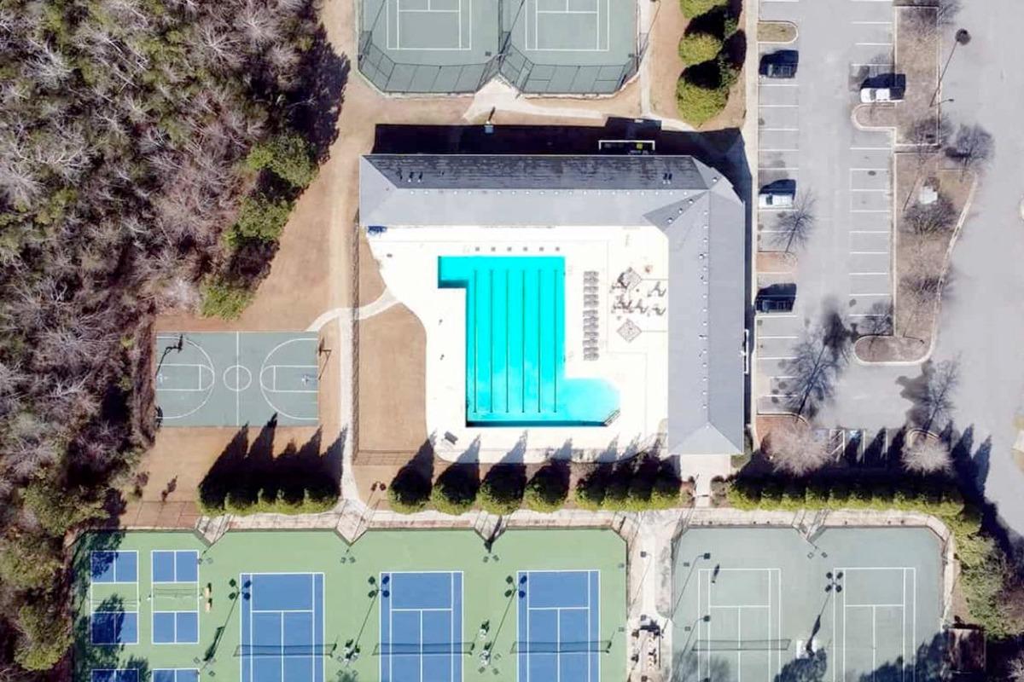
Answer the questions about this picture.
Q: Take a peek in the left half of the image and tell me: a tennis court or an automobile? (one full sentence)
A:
You can see a tennis court in the left half of the image.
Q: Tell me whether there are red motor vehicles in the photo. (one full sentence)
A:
No, I can't see a single red motor vehicle in this photo.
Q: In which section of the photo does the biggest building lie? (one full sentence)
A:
Look in the center portion of the view to spot the biggest building.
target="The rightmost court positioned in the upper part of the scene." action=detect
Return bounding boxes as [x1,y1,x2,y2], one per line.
[525,0,609,50]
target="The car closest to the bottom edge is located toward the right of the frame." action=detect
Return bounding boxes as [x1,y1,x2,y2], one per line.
[756,295,794,313]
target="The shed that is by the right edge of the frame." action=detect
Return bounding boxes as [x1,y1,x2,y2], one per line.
[948,630,984,670]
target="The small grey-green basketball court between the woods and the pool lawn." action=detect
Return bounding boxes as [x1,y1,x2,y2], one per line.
[156,332,319,427]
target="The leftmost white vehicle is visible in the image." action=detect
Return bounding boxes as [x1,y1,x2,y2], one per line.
[758,192,795,210]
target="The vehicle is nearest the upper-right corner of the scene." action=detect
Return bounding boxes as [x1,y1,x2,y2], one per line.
[861,86,906,104]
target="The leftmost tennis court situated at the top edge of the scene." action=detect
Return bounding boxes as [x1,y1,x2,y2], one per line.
[387,0,471,49]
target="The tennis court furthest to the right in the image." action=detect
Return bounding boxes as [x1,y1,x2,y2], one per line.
[834,568,915,682]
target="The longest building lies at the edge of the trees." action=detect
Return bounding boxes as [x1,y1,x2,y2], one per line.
[360,154,745,455]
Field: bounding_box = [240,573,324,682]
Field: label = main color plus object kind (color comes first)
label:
blue tennis court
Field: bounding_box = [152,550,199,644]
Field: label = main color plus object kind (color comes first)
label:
blue sports court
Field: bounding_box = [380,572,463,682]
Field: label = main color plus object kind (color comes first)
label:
blue tennis court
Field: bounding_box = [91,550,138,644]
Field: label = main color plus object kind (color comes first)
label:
blue sports court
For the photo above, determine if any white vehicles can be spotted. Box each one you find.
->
[758,192,795,210]
[861,86,906,104]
